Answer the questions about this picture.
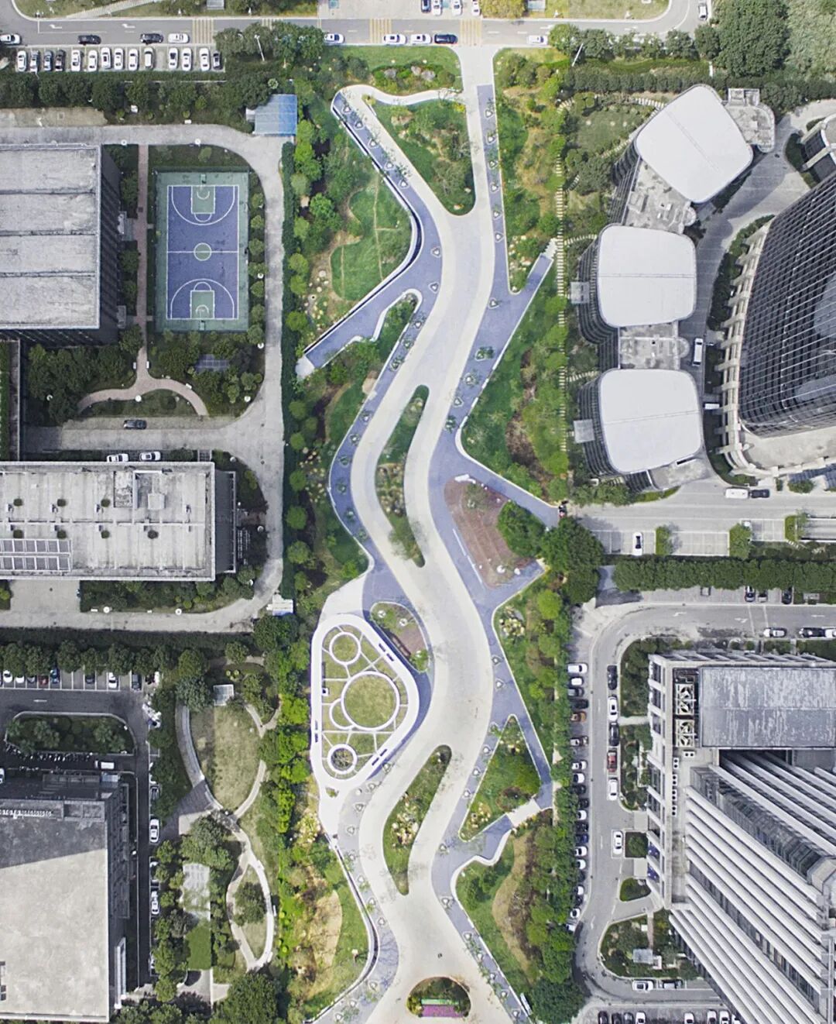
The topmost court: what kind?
basketball court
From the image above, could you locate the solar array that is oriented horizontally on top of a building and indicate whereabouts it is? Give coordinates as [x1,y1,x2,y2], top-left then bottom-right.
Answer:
[0,539,69,571]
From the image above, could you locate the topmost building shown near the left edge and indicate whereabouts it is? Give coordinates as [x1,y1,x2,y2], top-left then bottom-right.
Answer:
[0,144,125,343]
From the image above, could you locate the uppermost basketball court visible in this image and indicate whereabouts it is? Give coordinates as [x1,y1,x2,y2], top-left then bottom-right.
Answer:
[156,172,247,330]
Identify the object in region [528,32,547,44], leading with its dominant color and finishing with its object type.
white vehicle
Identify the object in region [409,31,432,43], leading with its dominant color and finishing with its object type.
white vehicle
